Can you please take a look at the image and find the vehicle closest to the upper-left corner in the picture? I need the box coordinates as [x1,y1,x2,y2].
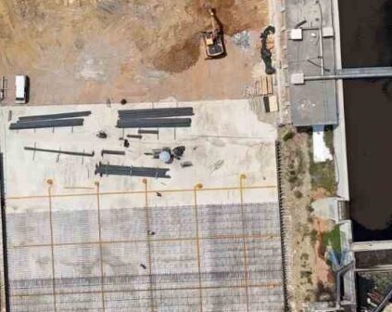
[14,74,27,102]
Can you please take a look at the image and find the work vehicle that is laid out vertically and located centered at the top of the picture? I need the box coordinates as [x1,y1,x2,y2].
[203,7,227,64]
